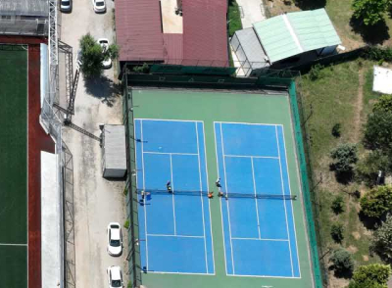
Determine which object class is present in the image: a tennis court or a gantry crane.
tennis court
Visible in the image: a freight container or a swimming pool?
freight container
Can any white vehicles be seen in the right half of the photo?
No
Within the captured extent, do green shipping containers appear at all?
No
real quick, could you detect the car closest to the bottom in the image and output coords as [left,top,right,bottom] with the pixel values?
[108,266,124,288]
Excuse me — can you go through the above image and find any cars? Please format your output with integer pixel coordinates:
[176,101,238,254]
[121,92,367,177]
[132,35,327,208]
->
[107,225,123,256]
[59,0,72,13]
[92,0,106,14]
[108,266,124,288]
[98,41,113,68]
